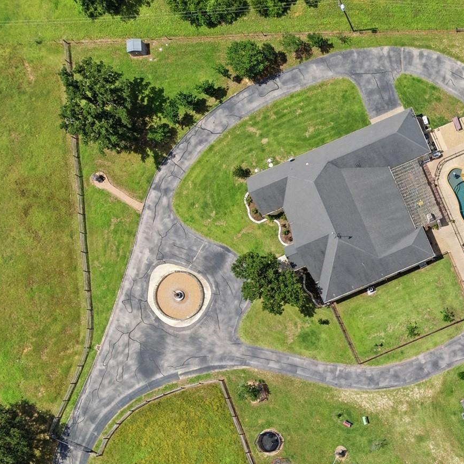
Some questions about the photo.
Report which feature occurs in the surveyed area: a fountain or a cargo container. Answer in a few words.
fountain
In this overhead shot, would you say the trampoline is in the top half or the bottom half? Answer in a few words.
bottom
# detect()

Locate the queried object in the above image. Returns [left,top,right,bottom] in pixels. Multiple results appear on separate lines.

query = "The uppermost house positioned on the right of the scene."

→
[249,107,435,304]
